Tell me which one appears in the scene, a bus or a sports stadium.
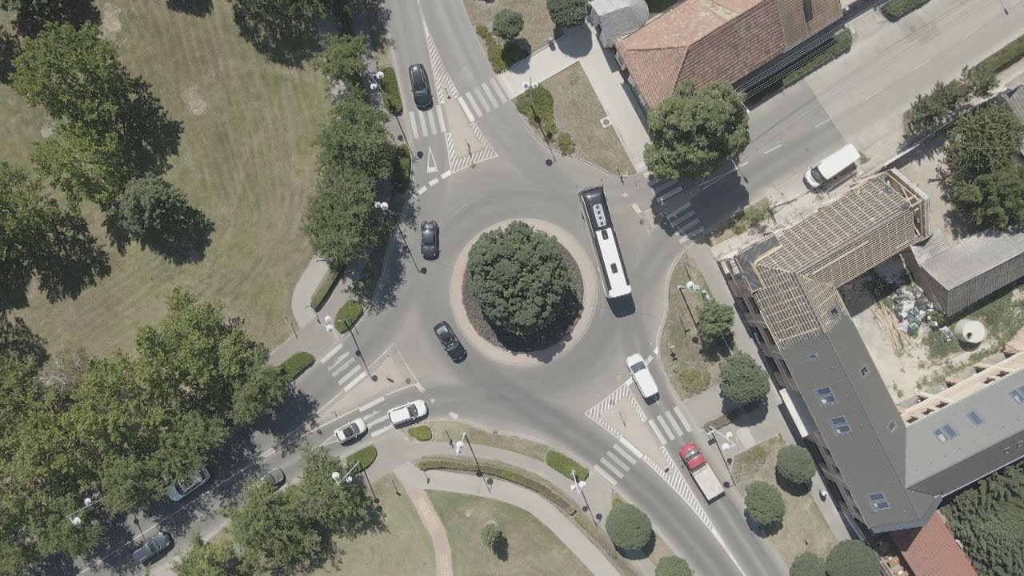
bus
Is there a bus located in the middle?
Yes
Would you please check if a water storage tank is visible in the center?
No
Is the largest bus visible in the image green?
No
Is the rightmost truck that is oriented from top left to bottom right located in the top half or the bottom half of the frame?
bottom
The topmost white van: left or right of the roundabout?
on the right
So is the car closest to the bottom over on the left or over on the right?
left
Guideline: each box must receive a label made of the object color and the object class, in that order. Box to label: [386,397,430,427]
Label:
white car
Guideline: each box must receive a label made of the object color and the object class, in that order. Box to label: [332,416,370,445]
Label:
white car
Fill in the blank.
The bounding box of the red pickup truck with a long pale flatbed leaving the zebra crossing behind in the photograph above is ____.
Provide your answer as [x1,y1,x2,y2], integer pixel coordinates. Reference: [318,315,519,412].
[680,444,725,501]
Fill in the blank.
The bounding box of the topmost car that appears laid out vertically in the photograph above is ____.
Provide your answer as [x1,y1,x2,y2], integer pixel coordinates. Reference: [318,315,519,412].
[408,62,434,113]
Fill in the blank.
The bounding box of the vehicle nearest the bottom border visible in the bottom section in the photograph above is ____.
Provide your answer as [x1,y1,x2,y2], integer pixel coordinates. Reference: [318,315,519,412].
[129,529,175,567]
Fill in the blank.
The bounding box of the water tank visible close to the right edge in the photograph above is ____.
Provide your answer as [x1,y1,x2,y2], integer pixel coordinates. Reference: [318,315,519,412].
[949,316,985,345]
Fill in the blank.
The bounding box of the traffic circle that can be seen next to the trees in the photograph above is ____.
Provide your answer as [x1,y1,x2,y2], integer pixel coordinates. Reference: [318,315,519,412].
[387,156,661,430]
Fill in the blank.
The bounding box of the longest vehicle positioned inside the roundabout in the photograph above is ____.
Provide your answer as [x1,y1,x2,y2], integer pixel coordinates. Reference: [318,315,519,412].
[573,178,631,301]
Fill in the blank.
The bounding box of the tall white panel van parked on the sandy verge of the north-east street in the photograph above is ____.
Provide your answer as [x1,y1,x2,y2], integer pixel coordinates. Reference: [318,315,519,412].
[802,141,866,186]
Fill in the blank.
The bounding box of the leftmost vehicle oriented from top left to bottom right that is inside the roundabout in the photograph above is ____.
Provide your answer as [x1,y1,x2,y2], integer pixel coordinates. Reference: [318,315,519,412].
[432,319,468,364]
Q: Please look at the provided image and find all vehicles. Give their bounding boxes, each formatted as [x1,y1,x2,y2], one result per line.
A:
[419,219,440,260]
[386,397,430,427]
[432,319,468,364]
[573,178,631,301]
[408,62,434,113]
[332,416,370,445]
[169,466,213,502]
[626,352,661,401]
[802,141,866,186]
[680,444,725,501]
[129,529,175,567]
